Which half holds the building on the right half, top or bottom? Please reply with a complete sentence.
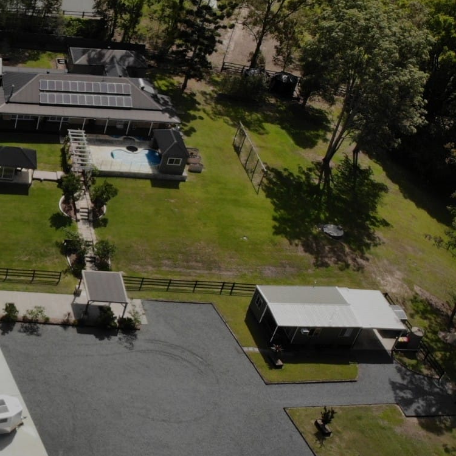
The building on the right half is in the bottom half of the image.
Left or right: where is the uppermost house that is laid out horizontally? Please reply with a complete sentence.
The uppermost house that is laid out horizontally sits on the left side.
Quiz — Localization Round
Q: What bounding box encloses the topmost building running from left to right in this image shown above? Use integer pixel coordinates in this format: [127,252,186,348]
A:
[0,47,180,133]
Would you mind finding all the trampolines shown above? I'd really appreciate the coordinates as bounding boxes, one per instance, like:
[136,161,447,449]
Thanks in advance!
[321,223,347,239]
